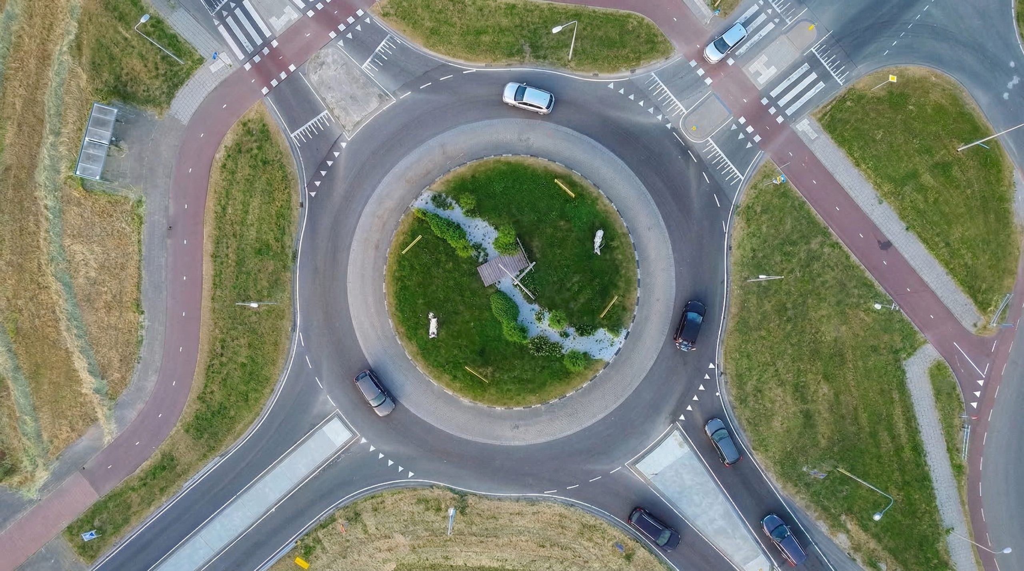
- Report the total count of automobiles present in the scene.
7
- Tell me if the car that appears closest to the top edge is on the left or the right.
right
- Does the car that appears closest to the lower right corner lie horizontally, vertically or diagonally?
diagonally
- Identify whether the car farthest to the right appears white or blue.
blue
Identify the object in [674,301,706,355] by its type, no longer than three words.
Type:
car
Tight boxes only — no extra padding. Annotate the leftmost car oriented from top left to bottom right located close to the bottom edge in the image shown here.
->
[627,505,680,552]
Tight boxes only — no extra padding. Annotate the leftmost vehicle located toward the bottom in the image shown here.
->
[353,368,396,416]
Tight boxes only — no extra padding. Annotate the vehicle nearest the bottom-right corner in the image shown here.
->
[761,513,809,568]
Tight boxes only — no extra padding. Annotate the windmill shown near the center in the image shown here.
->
[497,261,536,301]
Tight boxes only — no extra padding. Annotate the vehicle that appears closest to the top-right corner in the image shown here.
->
[702,20,751,66]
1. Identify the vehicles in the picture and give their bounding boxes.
[353,368,396,416]
[703,417,744,468]
[761,513,809,568]
[674,301,706,355]
[627,505,680,552]
[702,20,751,66]
[503,82,555,116]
